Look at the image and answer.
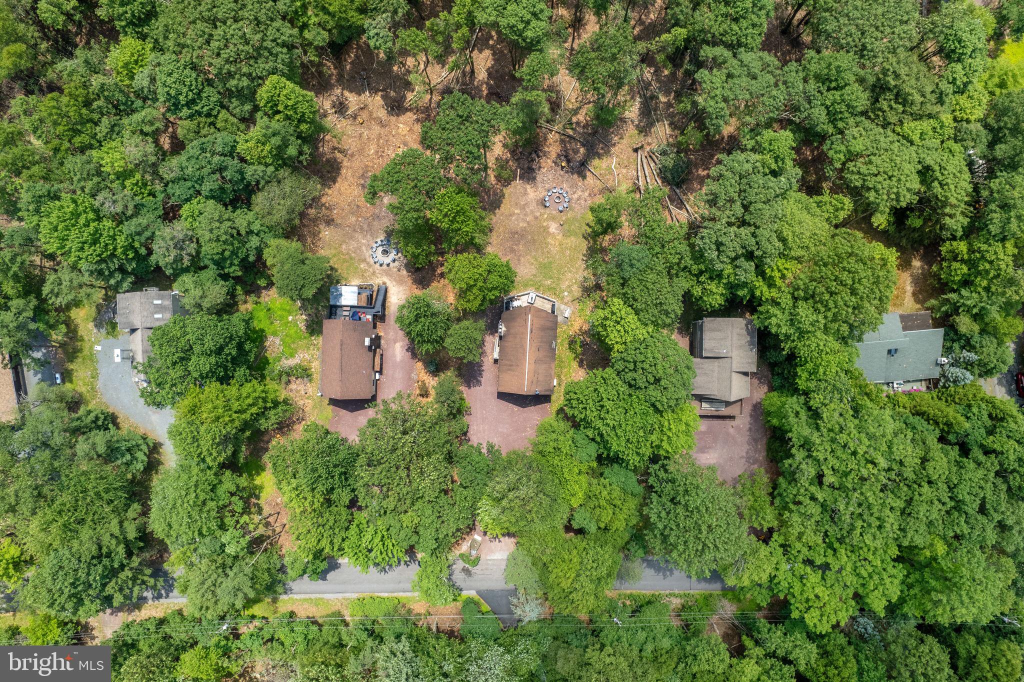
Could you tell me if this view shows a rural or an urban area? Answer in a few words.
rural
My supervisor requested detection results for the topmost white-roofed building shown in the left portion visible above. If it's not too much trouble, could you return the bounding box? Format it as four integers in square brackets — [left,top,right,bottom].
[330,286,360,304]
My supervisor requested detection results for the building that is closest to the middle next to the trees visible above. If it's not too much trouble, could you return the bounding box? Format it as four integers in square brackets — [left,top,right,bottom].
[497,304,558,396]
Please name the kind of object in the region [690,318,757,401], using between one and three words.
house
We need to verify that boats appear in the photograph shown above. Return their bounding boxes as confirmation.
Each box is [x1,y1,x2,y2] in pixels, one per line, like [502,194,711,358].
[469,534,485,557]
